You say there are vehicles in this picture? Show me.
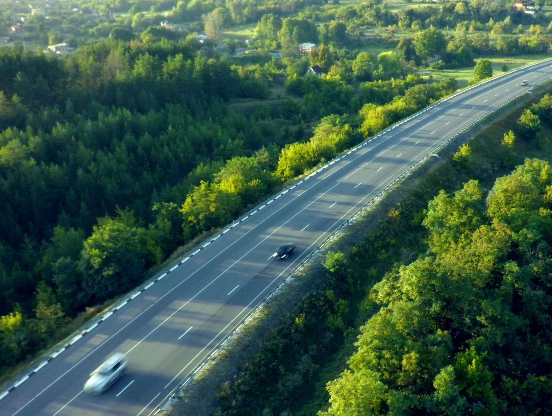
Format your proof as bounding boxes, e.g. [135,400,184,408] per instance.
[272,240,296,259]
[520,78,530,86]
[87,356,129,392]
